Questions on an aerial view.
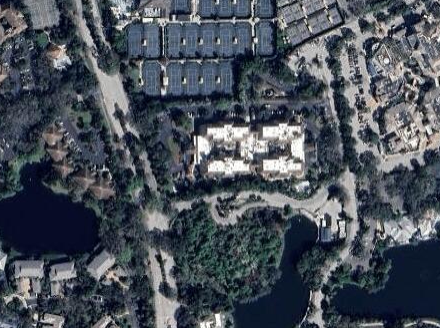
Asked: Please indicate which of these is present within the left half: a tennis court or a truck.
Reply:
tennis court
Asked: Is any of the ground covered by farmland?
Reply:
No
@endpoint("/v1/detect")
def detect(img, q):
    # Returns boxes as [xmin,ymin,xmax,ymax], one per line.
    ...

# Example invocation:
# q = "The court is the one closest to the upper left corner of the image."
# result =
[27,0,60,29]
